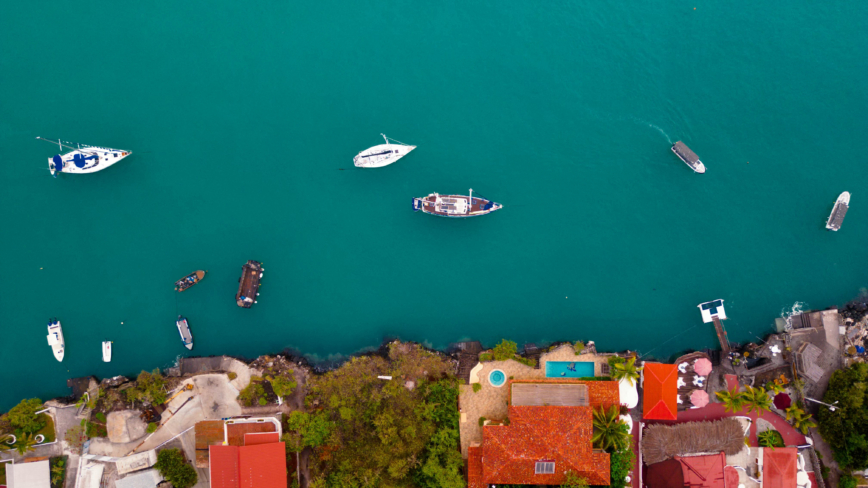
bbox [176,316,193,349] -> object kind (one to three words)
boat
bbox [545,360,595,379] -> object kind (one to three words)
swimming pool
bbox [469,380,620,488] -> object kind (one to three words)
house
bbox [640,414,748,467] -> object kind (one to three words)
building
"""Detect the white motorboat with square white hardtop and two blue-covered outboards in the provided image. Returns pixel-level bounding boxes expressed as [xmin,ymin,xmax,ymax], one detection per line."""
[47,315,66,362]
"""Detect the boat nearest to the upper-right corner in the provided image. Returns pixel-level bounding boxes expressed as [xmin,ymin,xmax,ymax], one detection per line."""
[825,192,852,232]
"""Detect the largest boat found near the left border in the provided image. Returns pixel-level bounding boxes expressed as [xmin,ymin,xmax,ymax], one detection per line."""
[35,136,131,176]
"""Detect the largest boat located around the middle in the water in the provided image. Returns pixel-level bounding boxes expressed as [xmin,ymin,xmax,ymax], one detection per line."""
[412,189,503,217]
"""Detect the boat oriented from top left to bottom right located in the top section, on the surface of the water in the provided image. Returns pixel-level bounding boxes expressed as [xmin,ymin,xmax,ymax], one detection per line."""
[669,141,706,173]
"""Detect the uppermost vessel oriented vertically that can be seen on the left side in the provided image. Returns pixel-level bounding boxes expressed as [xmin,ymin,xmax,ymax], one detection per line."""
[236,261,264,308]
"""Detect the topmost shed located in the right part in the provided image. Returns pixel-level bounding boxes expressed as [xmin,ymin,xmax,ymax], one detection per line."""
[698,298,728,323]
